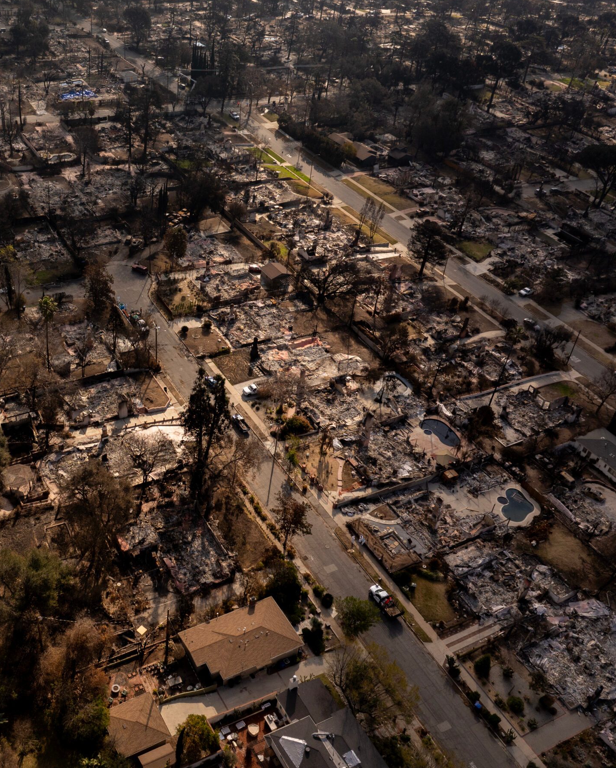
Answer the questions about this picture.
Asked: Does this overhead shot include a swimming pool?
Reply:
Yes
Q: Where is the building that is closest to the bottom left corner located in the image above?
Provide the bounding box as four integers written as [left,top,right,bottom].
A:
[109,693,177,768]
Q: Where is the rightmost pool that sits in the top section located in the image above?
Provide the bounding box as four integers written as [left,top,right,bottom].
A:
[554,229,583,246]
